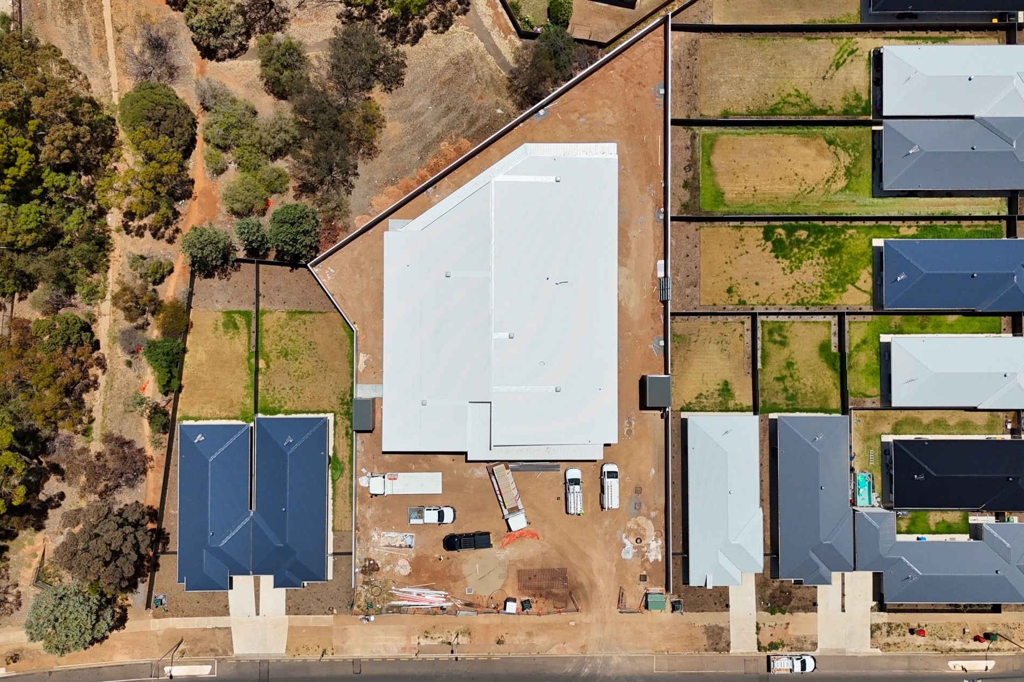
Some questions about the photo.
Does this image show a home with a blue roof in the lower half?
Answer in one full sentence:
Yes, I can see a home with a blue roof in the lower half.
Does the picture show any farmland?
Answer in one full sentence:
No, the scene doesn't show any farmland.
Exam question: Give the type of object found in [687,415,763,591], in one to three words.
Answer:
house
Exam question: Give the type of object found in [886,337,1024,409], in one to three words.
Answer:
house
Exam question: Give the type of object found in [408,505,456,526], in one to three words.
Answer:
truck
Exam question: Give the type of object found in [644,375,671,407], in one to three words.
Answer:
shed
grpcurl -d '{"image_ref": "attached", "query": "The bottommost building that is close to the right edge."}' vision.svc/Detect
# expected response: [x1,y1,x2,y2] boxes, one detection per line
[854,511,1024,604]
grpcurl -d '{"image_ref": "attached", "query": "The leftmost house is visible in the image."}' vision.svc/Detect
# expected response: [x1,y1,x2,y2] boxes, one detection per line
[178,424,252,592]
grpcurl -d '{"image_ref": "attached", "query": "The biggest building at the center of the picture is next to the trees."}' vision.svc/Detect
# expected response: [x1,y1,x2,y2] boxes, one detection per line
[382,142,619,460]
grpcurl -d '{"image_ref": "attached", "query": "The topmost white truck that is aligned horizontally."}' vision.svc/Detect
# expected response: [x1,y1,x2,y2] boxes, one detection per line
[368,472,442,498]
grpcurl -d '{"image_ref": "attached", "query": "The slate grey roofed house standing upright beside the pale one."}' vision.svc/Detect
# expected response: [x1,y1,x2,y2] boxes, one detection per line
[776,415,854,586]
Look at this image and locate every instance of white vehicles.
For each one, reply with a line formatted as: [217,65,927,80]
[408,505,456,526]
[368,472,442,498]
[766,652,816,676]
[600,463,622,514]
[564,466,585,517]
[486,462,530,536]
